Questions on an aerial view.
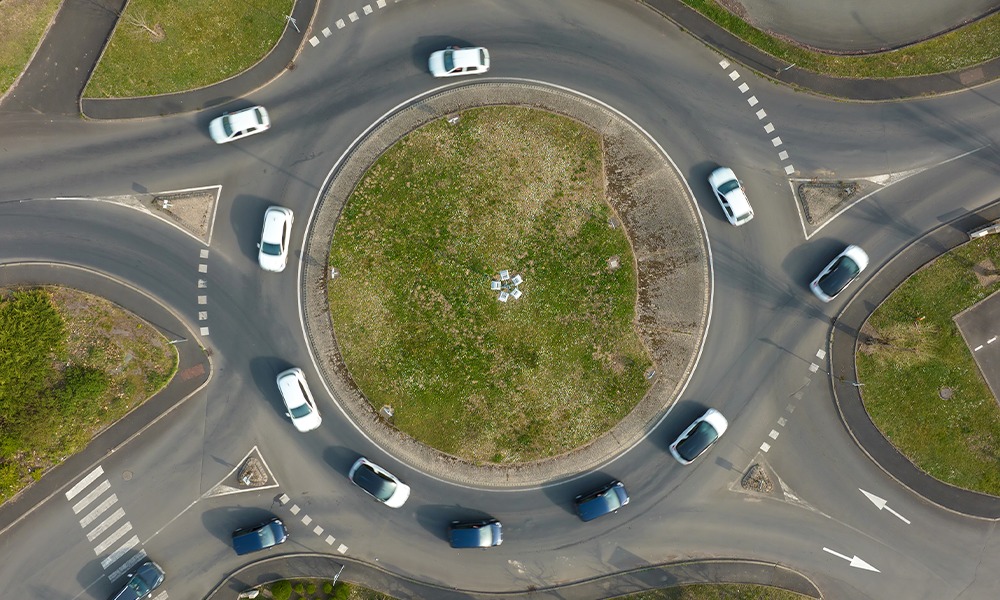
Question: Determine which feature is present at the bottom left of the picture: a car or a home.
car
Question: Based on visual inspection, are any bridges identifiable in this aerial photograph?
No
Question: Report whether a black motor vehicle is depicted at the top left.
No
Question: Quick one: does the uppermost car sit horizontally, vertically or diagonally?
horizontally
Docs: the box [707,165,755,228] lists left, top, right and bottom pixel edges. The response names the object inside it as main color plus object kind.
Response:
white car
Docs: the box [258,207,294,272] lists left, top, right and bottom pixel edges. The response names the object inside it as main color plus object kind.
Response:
white car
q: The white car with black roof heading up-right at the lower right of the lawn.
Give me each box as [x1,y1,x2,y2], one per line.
[669,409,727,465]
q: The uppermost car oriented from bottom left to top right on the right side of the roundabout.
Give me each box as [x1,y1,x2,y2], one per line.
[809,246,866,302]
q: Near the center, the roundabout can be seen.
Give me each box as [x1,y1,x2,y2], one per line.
[208,0,803,581]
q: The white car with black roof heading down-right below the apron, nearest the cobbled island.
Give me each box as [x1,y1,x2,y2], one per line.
[349,457,410,506]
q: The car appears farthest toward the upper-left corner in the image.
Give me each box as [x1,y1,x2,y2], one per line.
[210,107,273,145]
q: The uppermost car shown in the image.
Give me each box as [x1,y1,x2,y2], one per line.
[429,46,491,78]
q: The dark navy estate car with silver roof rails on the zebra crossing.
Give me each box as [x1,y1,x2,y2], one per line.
[110,558,169,600]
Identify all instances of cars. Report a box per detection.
[277,367,322,432]
[230,518,290,556]
[429,46,491,78]
[349,457,410,506]
[669,409,727,465]
[707,165,755,228]
[809,246,866,302]
[210,107,273,145]
[258,207,294,272]
[110,558,169,600]
[572,481,631,521]
[447,518,504,550]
